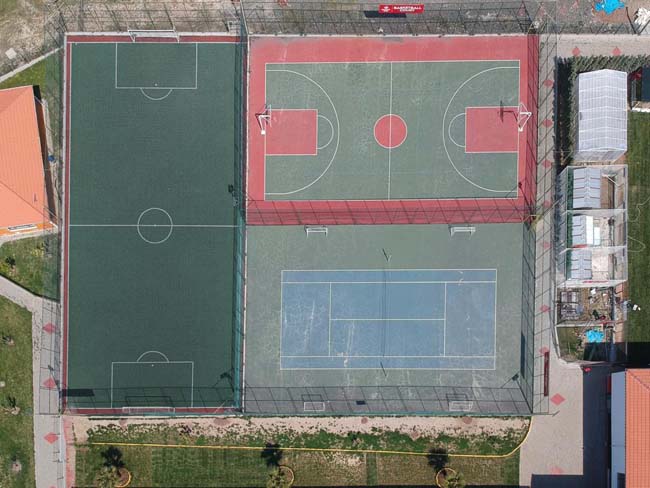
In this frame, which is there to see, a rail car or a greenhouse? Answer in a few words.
greenhouse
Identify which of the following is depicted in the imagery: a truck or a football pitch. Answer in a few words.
football pitch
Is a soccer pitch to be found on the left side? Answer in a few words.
Yes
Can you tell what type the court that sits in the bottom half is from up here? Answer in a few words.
tennis court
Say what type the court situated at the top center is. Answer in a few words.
basketball court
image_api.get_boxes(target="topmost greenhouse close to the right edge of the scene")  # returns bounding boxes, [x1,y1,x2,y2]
[571,67,628,164]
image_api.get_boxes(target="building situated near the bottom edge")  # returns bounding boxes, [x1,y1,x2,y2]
[597,369,650,488]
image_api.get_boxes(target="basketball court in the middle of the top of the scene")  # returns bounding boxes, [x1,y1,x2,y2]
[246,37,538,225]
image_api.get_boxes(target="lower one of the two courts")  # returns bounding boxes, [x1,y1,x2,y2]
[244,223,535,416]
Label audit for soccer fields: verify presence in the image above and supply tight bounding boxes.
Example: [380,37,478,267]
[62,35,247,412]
